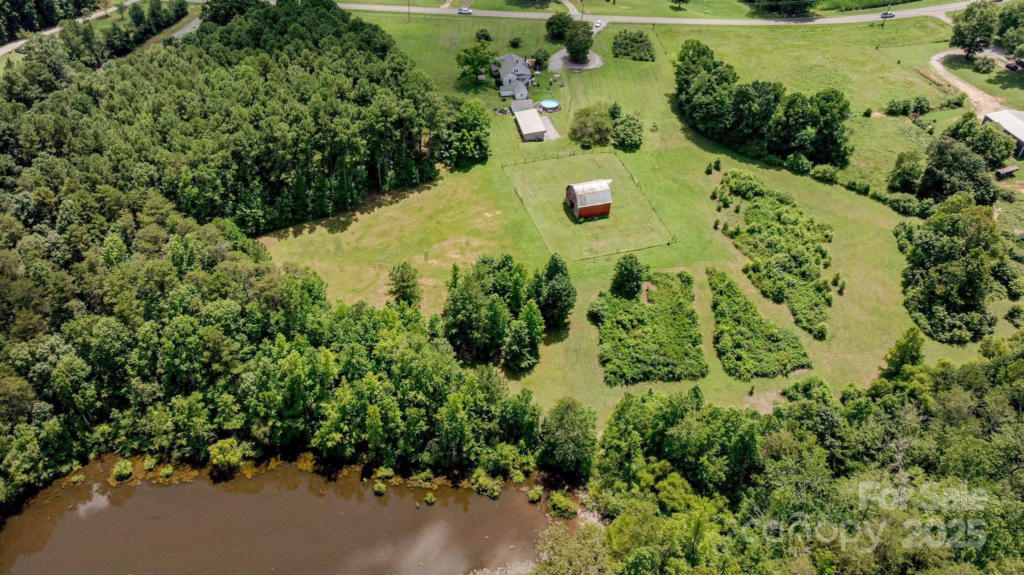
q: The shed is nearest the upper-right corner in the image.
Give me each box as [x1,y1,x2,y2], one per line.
[983,108,1024,160]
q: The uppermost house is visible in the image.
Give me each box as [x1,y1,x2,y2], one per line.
[489,53,538,99]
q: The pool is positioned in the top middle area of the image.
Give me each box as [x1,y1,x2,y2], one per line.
[539,100,560,112]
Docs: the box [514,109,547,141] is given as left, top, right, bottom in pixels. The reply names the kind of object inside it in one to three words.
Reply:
building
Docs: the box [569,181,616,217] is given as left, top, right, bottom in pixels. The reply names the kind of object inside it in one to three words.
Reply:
barn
